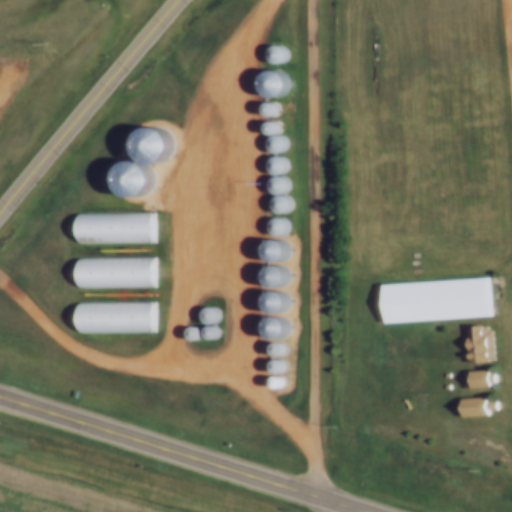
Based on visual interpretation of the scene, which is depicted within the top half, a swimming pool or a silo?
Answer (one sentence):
The feature located within the top half is a silo.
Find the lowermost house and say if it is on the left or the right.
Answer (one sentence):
The lowermost house appears in the right half of the scene.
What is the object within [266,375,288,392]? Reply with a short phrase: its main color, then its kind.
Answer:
white silo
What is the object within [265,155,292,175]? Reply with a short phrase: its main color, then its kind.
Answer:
white silo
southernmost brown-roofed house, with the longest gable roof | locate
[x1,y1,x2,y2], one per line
[458,398,498,418]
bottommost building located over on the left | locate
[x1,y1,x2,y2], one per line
[73,302,159,334]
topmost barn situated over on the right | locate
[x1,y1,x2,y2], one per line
[380,276,496,325]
